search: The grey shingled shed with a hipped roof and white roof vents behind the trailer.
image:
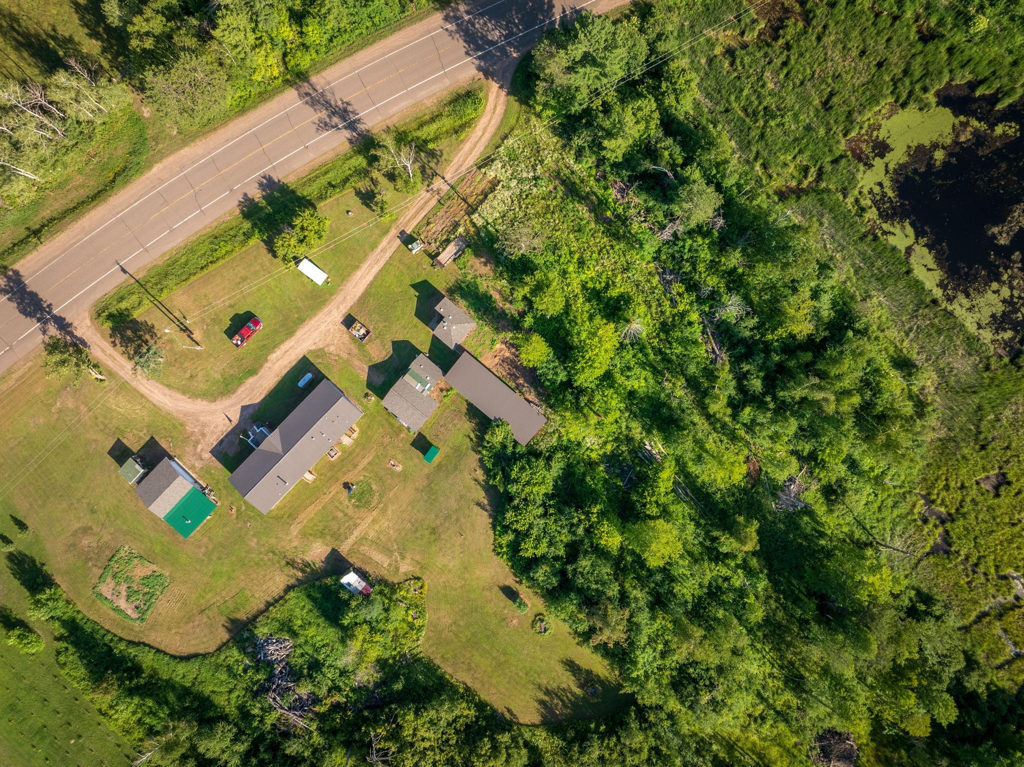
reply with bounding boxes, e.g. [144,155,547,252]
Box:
[431,295,476,349]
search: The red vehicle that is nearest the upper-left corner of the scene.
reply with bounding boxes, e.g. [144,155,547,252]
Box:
[230,317,265,349]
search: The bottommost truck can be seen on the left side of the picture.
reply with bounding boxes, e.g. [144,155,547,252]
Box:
[340,567,370,596]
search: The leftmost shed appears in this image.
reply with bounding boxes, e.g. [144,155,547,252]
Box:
[120,459,150,484]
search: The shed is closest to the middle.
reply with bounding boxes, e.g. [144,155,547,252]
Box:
[444,351,548,446]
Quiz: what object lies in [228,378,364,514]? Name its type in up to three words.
house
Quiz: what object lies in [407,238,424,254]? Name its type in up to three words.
vehicle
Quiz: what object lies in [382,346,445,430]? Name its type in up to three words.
building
